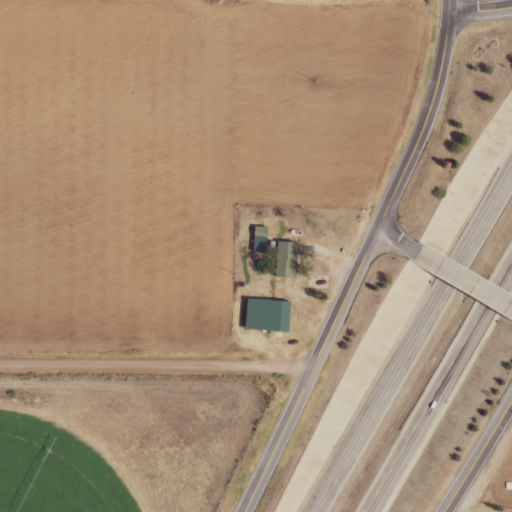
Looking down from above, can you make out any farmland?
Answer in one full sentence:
Yes, farmland shows up in the scene.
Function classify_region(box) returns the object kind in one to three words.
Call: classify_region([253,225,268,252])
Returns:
shed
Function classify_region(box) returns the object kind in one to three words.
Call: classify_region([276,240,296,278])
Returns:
house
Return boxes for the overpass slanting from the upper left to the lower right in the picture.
[408,242,512,321]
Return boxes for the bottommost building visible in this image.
[246,298,292,332]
